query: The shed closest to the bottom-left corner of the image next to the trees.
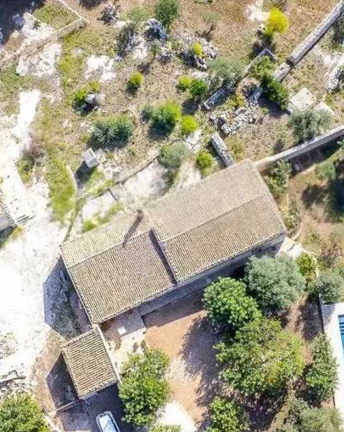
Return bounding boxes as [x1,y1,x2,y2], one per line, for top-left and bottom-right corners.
[61,324,121,400]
